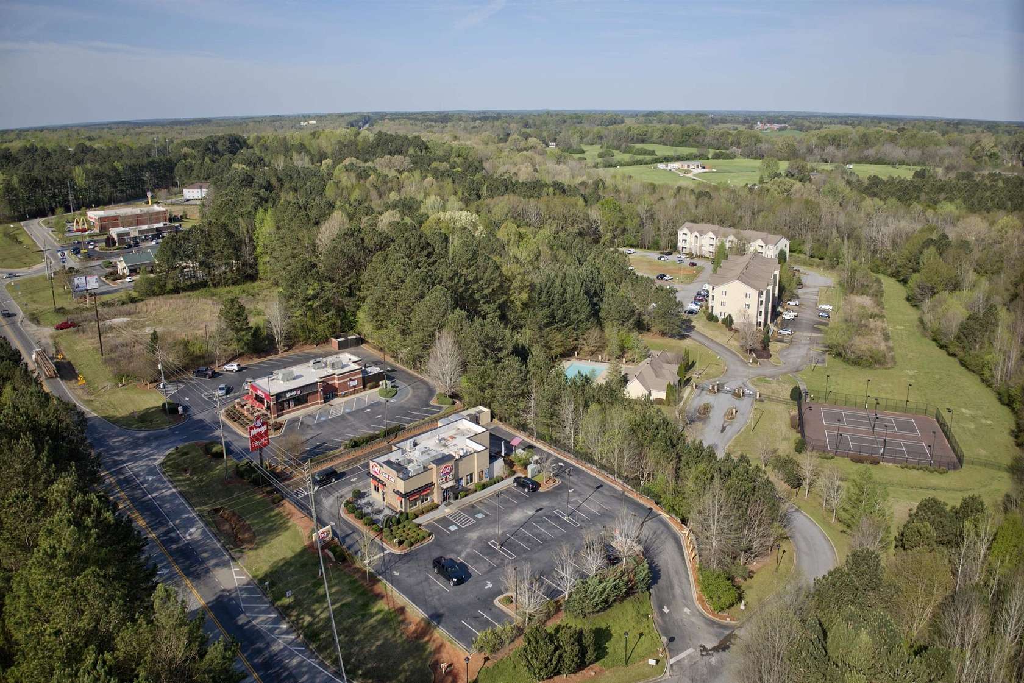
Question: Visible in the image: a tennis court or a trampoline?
tennis court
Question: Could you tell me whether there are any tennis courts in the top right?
No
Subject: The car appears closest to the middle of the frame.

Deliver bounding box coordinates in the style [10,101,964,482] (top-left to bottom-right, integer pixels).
[514,475,538,491]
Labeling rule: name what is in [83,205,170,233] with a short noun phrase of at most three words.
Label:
building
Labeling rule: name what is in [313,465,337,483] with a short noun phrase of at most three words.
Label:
car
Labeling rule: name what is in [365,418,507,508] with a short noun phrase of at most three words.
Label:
building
